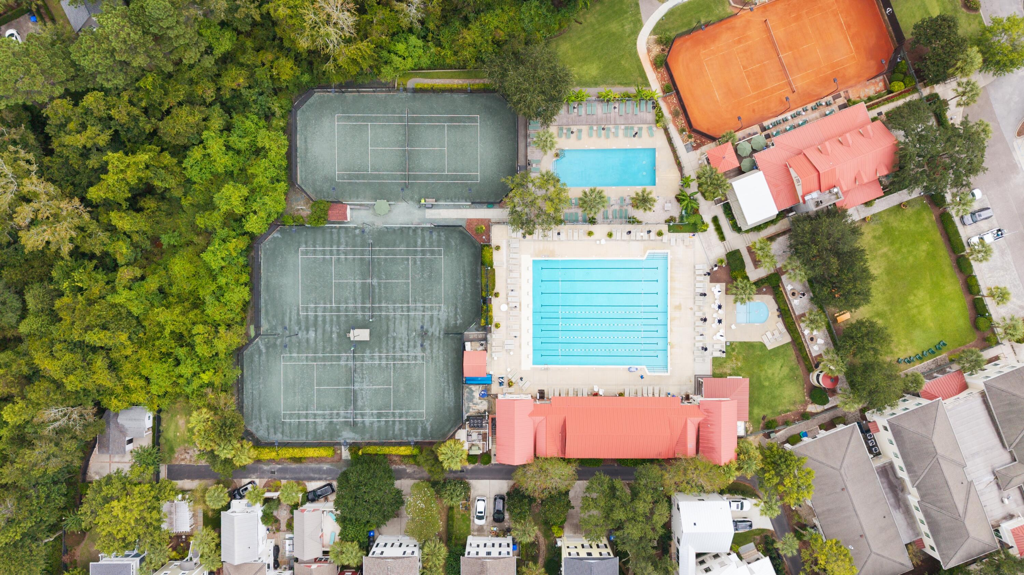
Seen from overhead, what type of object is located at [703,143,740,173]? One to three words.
gazebo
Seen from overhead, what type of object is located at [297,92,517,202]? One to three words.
tennis court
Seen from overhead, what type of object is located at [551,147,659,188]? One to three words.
swimming pool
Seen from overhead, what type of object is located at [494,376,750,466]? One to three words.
building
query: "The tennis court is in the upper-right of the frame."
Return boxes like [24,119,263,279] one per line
[670,0,894,135]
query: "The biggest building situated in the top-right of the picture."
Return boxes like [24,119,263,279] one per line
[753,101,901,213]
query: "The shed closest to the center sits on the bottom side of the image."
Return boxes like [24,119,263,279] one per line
[464,351,486,377]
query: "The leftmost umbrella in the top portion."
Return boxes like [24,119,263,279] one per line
[374,199,390,216]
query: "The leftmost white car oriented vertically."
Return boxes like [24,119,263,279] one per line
[473,496,487,525]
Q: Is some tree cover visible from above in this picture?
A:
Yes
